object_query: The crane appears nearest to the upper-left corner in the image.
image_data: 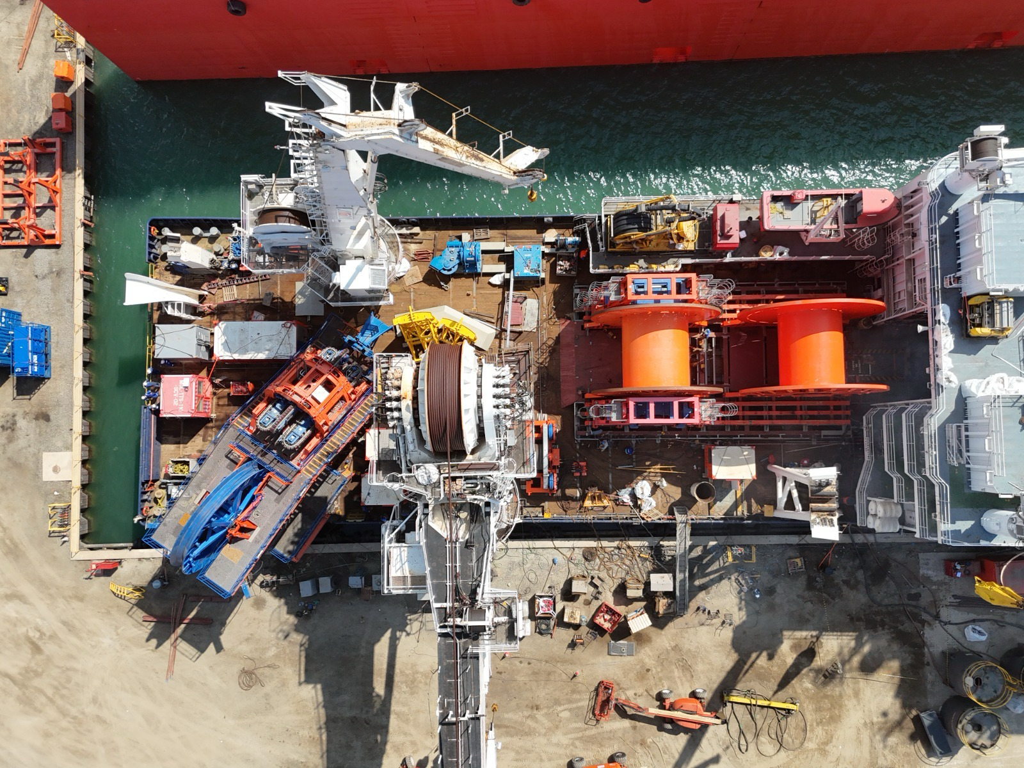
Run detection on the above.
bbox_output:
[259,69,549,306]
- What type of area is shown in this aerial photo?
port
